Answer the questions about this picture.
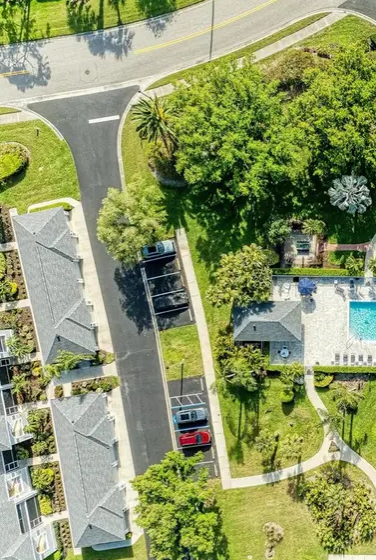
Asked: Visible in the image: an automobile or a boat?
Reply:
automobile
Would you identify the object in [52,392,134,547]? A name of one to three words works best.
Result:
building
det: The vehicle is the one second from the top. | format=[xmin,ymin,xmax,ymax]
[155,295,189,312]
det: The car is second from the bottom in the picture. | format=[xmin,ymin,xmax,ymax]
[175,407,208,423]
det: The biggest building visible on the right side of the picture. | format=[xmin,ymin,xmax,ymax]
[233,300,303,341]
